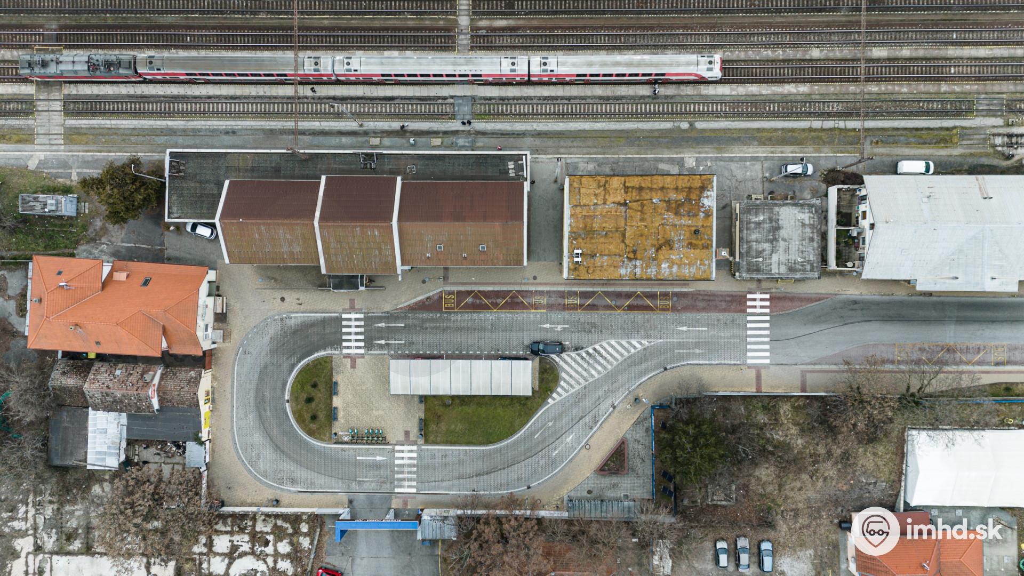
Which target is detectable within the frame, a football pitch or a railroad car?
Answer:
railroad car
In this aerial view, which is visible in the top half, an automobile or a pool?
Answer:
automobile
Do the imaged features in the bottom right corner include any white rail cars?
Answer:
No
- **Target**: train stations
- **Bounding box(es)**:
[165,150,530,292]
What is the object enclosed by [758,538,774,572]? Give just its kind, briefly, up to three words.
car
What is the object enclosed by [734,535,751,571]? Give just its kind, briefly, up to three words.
car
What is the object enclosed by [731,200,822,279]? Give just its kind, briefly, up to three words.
building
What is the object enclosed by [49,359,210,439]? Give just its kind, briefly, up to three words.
house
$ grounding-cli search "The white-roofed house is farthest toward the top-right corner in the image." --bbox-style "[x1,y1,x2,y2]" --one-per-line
[857,175,1024,292]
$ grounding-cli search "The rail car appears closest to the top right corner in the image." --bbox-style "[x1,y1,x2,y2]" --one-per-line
[526,53,721,83]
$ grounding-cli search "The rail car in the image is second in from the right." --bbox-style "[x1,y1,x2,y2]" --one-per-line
[332,54,526,83]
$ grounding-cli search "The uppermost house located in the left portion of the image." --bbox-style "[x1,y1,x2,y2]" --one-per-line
[27,254,215,357]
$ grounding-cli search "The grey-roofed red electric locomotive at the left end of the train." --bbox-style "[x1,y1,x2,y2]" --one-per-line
[22,53,149,81]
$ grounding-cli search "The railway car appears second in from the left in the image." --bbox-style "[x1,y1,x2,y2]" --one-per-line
[134,53,339,83]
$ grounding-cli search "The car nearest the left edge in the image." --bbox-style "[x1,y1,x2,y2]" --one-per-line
[185,222,217,241]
